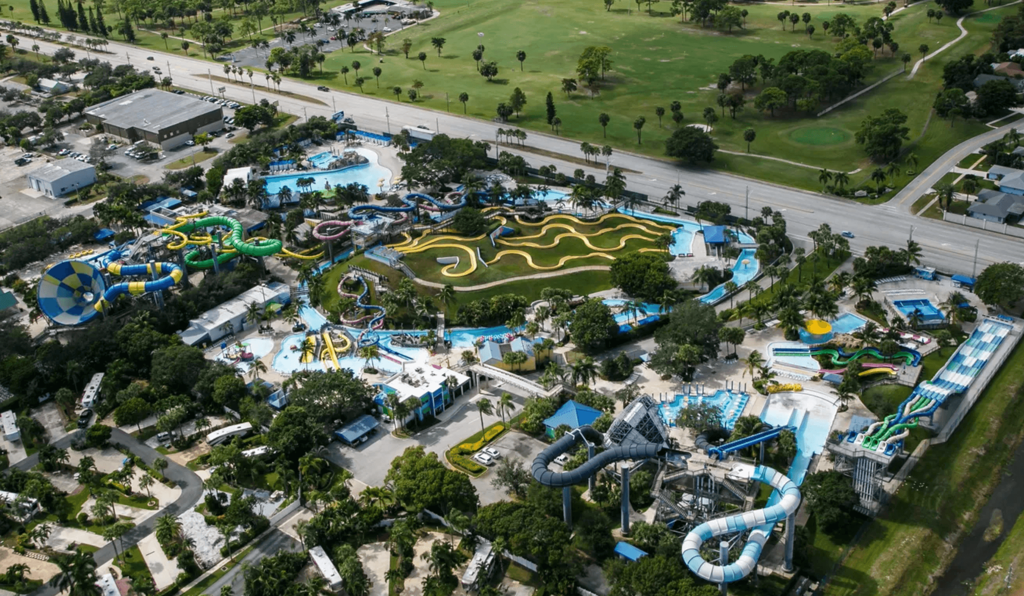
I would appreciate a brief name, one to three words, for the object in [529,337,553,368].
building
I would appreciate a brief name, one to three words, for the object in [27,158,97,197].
building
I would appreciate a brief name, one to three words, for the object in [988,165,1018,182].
house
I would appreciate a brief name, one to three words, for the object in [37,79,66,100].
house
